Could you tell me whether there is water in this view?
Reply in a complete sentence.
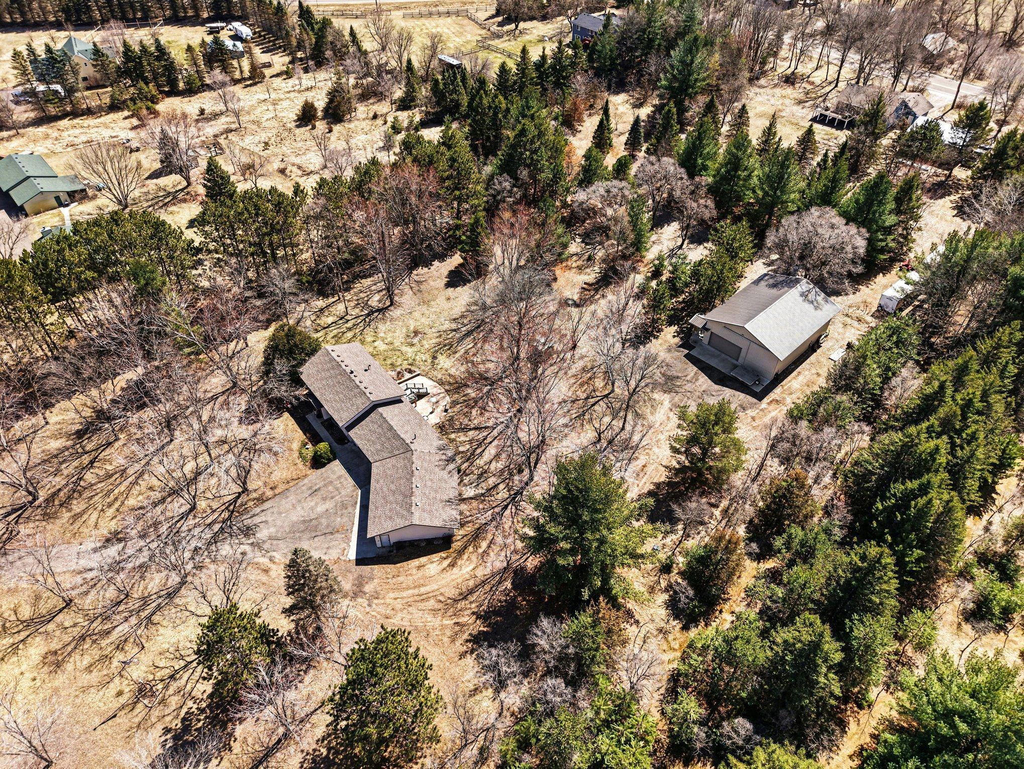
No, water can't be seen anywhere here.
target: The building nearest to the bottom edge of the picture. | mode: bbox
[299,342,460,546]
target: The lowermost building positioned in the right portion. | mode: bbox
[687,273,842,381]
